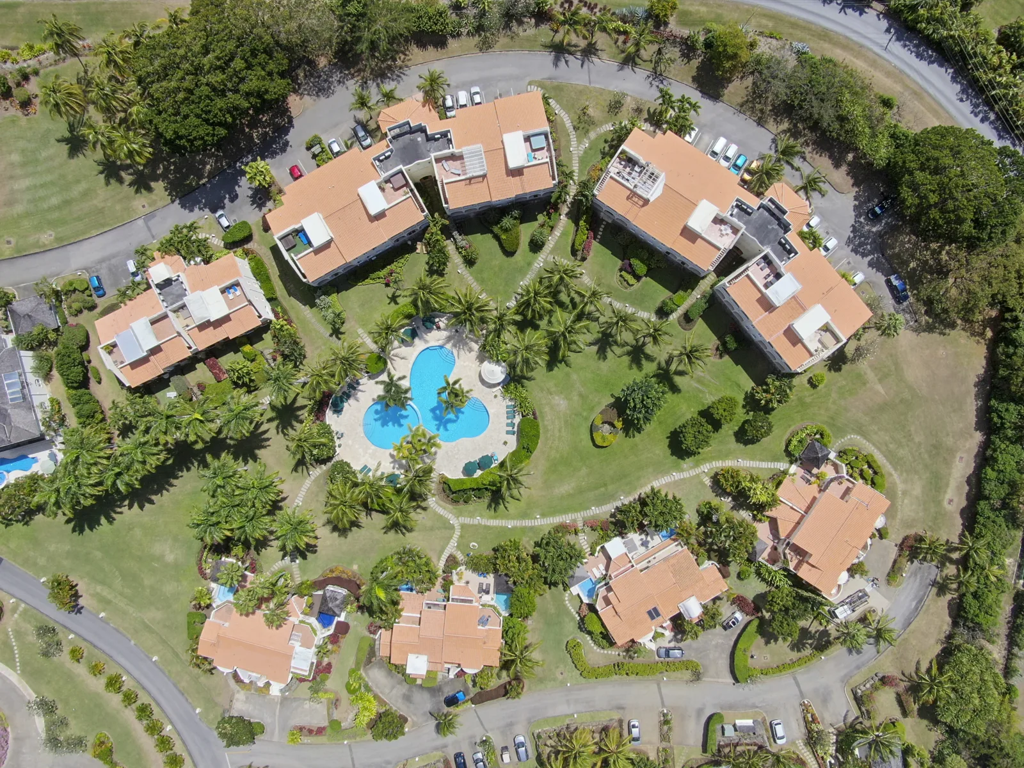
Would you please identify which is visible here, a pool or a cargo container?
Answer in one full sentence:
Visible in the photo is a pool.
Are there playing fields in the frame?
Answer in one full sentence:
No, the scene contains no playing field.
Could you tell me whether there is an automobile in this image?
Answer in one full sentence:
Yes, you can see an automobile in this photo.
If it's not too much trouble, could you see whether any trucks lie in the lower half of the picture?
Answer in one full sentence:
Yes, a truck can be seen in the lower half of the picture.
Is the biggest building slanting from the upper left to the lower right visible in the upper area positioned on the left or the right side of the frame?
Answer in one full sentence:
You can find the biggest building slanting from the upper left to the lower right visible in the upper area on the right side of the picture.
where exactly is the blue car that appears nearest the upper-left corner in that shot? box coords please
[89,275,108,298]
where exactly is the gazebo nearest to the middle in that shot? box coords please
[480,359,505,384]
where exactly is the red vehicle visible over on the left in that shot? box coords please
[286,161,305,181]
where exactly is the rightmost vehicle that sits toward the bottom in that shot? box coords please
[828,585,875,620]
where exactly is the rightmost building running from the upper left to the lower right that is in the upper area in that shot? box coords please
[591,126,873,374]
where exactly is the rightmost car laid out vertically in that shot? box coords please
[770,717,785,744]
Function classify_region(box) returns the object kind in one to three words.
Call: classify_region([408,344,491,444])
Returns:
swimming pool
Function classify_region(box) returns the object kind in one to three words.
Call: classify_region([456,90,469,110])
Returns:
vehicle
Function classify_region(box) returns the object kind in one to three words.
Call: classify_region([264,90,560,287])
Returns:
building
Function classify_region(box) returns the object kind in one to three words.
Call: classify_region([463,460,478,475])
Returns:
umbrella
